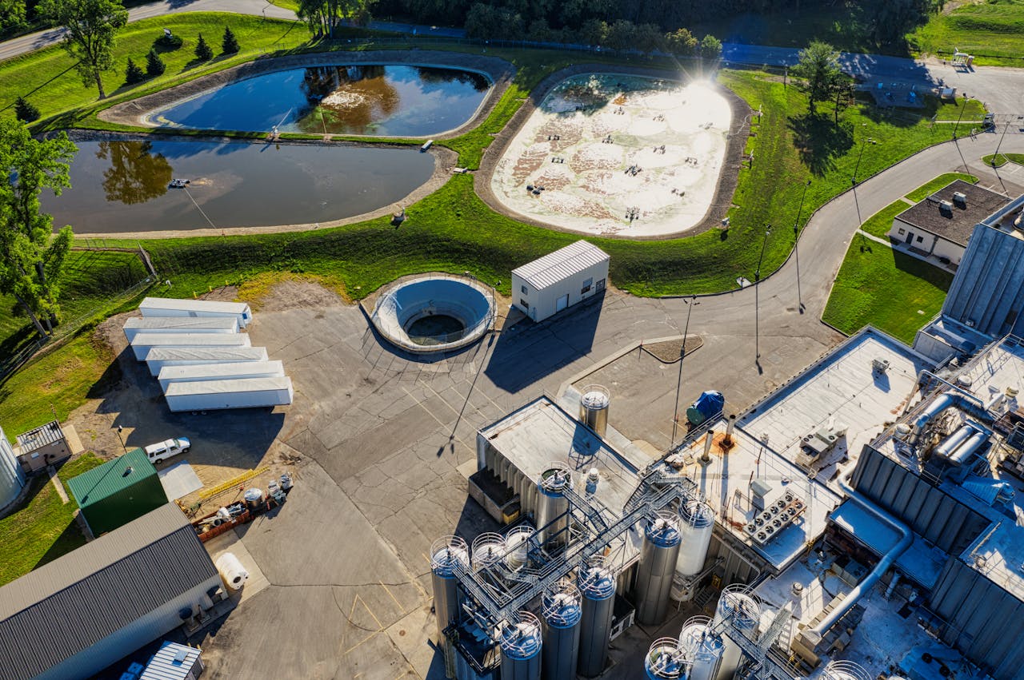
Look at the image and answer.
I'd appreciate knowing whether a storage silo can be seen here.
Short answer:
Yes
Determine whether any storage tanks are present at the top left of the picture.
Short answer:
No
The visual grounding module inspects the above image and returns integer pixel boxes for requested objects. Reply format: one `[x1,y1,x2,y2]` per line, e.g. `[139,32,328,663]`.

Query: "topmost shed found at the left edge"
[16,420,71,470]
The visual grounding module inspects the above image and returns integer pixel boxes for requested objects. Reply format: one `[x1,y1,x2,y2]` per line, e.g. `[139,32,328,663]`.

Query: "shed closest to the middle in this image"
[511,240,611,323]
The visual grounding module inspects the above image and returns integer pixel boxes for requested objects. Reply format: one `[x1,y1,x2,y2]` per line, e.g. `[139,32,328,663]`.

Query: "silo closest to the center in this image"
[578,390,609,438]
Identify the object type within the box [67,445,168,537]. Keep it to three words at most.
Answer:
shed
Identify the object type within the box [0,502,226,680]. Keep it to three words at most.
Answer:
shed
